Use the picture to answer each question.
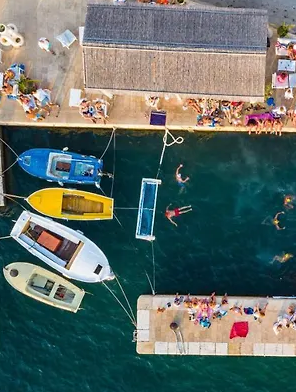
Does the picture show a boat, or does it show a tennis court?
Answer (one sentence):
There is a boat in the scene.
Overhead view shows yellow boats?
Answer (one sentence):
Yes, a yellow boat appears in the view.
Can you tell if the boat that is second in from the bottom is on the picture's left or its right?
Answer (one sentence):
The boat that is second in from the bottom is on the left side of the image.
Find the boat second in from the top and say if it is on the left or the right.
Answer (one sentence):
The boat second in from the top is on the left side of the image.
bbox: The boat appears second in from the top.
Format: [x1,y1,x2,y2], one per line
[23,187,118,221]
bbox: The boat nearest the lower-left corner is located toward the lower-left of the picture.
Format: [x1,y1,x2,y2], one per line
[0,265,87,312]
